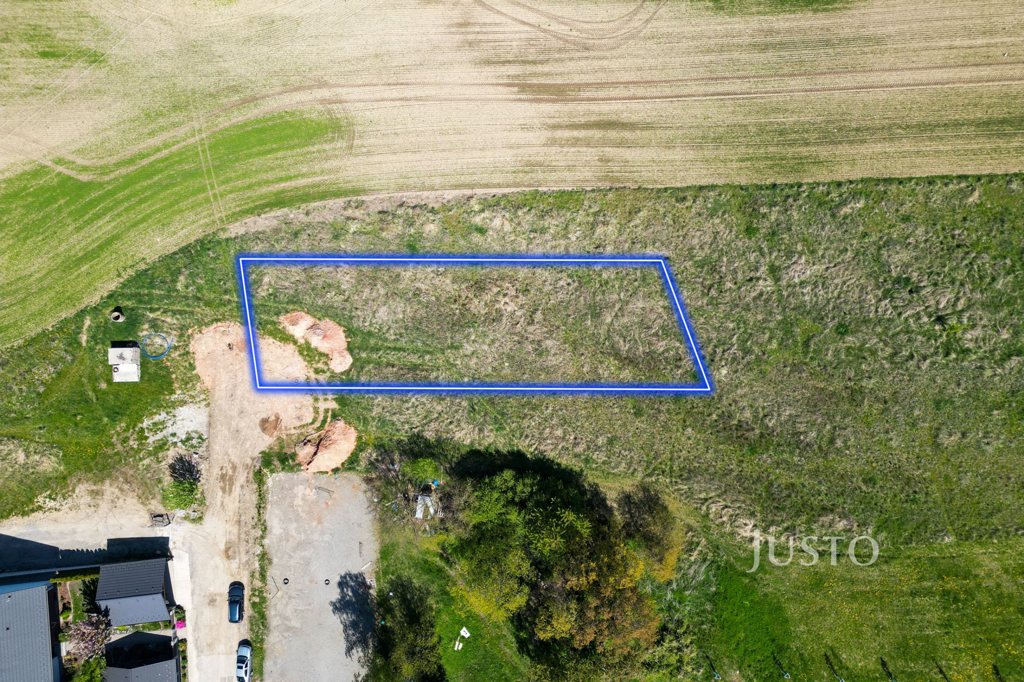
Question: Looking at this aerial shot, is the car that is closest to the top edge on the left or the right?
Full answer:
The car that is closest to the top edge appears in the left half of the scene.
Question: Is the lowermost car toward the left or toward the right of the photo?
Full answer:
The lowermost car is on the left side of the image.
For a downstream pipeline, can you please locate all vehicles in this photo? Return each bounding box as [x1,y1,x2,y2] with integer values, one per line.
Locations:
[234,644,254,682]
[226,583,246,624]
